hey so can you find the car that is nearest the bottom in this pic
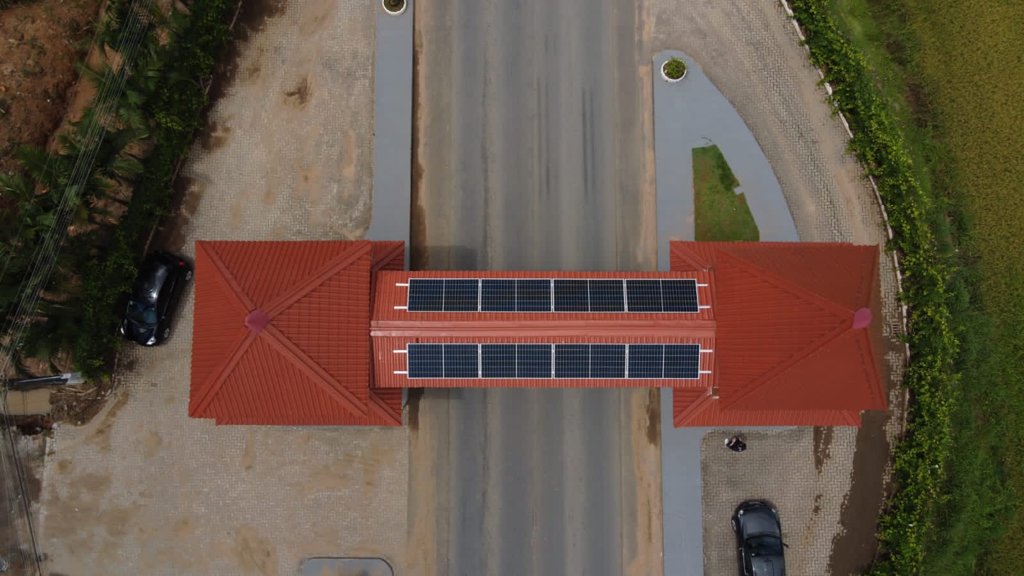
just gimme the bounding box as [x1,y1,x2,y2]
[734,502,794,576]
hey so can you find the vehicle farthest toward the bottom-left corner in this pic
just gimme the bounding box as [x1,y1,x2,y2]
[115,247,189,349]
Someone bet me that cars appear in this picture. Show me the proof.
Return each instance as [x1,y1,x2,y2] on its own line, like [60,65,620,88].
[115,247,189,349]
[734,502,794,576]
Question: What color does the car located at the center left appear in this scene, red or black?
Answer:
black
